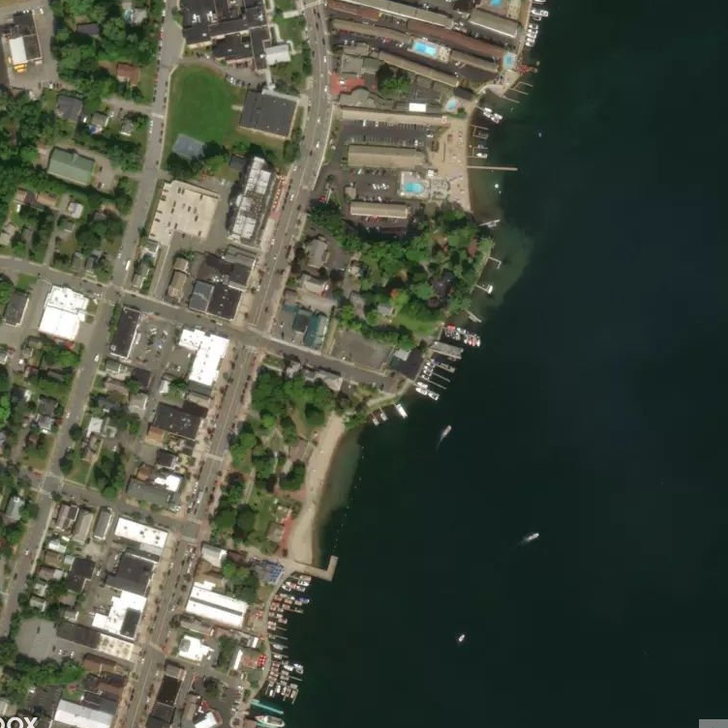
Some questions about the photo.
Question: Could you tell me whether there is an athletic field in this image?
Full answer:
Yes, I can see an athletic field in this picture.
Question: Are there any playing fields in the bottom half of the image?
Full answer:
No, there is no playing field in the bottom half of the image.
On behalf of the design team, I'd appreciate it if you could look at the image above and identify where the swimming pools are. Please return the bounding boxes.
[400,172,449,198]
[445,95,466,113]
[502,52,516,69]
[408,36,451,64]
[483,0,509,14]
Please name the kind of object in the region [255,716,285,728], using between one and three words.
ship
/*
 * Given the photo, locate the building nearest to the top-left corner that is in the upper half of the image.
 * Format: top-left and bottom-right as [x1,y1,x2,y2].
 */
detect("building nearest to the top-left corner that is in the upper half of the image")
[9,10,42,65]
